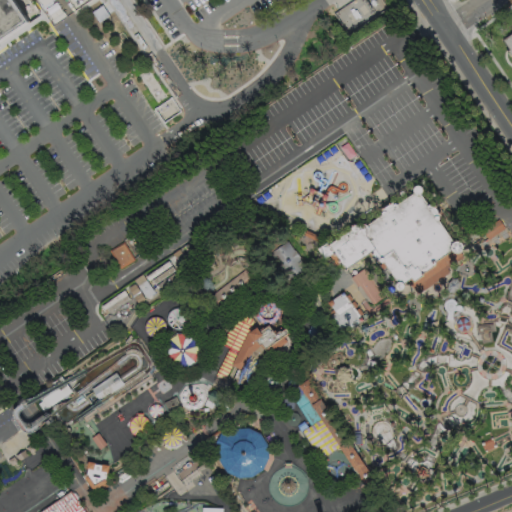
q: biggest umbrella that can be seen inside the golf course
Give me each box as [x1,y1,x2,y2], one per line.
[456,316,472,332]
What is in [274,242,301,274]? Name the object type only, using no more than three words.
house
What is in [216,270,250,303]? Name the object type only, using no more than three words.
house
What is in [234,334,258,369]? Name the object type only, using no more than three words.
building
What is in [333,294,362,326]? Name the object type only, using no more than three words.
building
